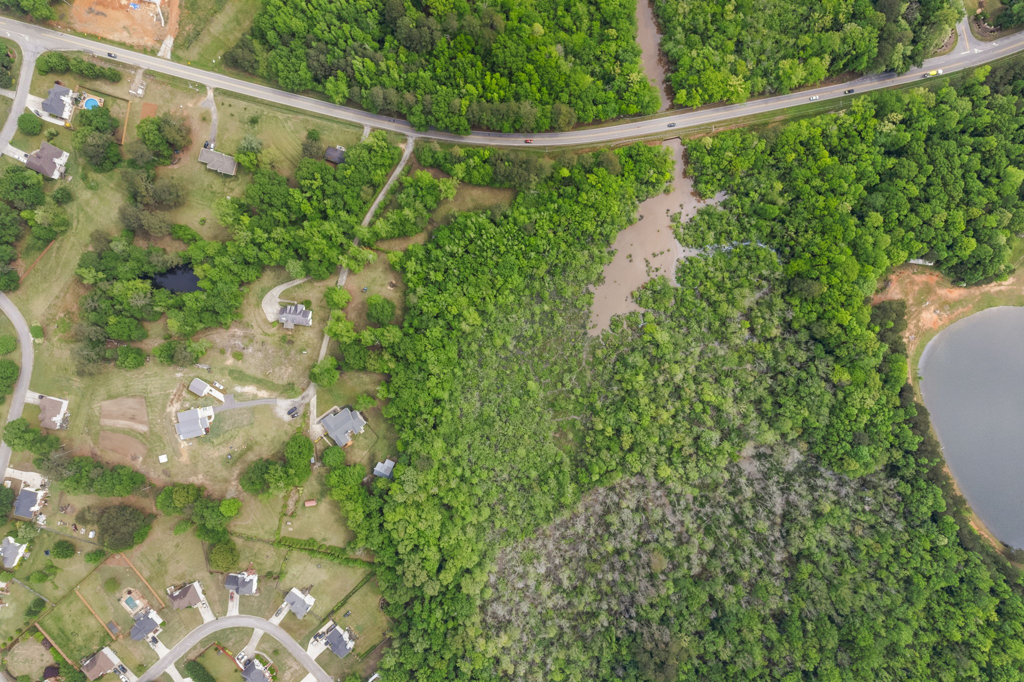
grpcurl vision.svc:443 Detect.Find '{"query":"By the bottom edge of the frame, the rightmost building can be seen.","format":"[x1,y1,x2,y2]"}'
[324,623,356,660]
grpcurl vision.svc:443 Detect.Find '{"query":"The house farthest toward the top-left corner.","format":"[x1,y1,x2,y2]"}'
[39,83,82,120]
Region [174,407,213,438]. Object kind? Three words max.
house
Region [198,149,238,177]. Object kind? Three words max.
house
